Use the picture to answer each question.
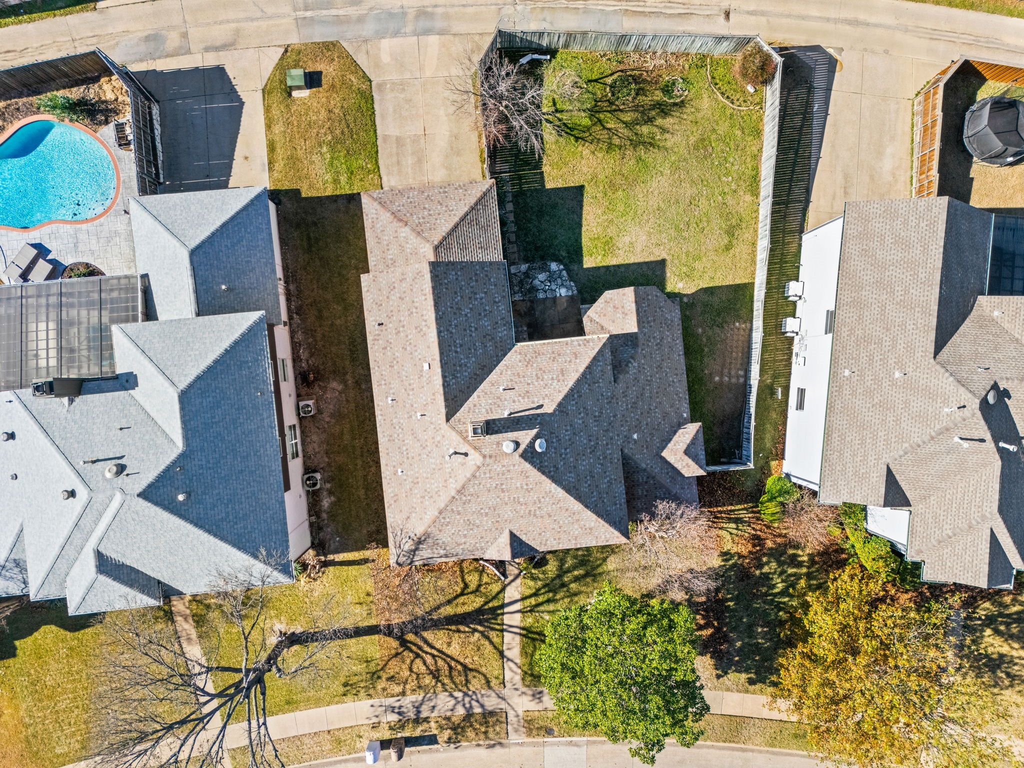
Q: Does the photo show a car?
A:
No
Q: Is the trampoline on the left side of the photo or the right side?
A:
right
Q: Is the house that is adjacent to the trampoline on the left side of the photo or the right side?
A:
right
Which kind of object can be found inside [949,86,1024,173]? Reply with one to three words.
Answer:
trampoline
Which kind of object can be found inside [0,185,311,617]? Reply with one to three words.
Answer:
house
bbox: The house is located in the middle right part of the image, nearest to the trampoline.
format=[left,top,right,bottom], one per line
[781,196,1024,589]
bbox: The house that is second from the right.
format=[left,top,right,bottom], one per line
[360,179,708,568]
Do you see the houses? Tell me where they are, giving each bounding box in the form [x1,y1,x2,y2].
[781,196,1024,589]
[360,179,708,568]
[0,185,311,617]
